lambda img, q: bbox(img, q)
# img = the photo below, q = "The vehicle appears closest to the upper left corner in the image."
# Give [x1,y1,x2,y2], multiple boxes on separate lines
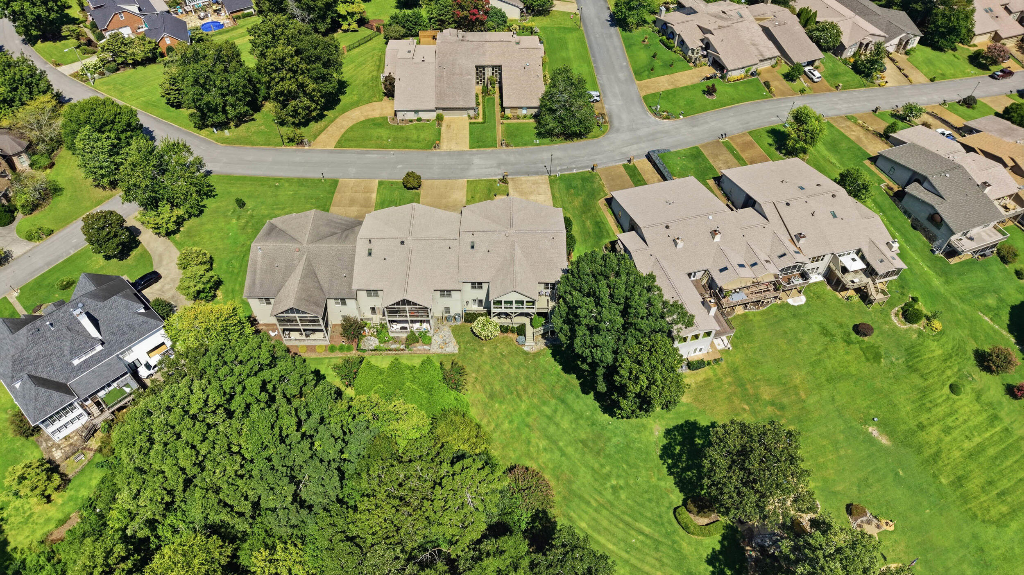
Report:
[129,267,166,294]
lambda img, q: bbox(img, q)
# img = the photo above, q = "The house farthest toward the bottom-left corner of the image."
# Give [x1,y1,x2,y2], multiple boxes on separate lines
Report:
[0,272,169,443]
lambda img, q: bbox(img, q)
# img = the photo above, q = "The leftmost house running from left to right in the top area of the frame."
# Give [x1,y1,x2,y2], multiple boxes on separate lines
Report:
[87,0,193,55]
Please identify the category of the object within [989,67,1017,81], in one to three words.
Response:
vehicle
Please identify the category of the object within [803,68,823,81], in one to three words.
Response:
vehicle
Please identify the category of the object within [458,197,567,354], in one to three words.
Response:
house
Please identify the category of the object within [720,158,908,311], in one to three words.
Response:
house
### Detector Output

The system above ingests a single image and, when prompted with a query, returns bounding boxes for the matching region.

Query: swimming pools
[197,21,229,33]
